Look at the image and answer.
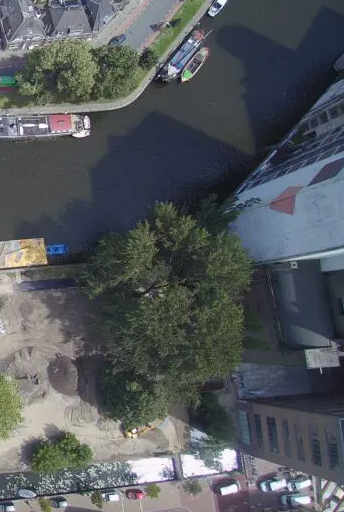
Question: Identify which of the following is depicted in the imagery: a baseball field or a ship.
ship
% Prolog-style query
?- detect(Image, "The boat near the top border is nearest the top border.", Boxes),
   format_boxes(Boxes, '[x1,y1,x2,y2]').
[191,0,225,31]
